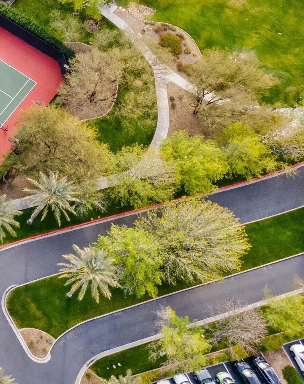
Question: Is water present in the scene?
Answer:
No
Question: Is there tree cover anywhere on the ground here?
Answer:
Yes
